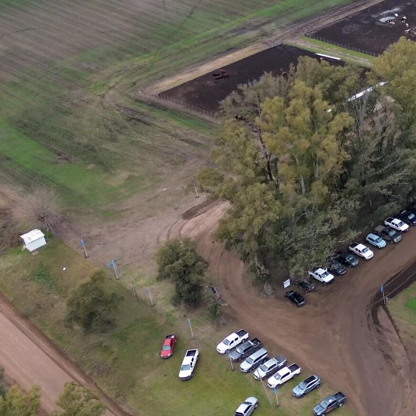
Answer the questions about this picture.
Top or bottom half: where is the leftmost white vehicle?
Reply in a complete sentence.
The leftmost white vehicle is in the bottom half of the image.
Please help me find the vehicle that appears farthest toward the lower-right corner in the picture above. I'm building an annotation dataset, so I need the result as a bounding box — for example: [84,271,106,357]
[314,388,348,416]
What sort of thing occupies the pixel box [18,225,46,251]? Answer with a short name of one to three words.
shed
